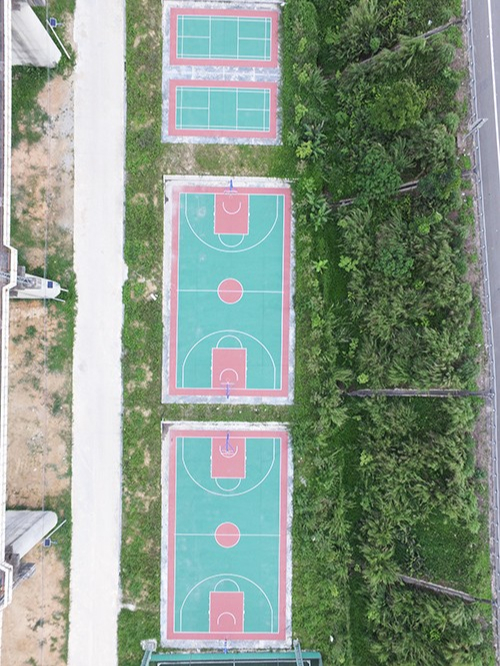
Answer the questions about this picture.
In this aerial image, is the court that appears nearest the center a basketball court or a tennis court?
basketball court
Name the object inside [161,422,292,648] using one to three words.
basketball court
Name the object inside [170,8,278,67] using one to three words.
sports court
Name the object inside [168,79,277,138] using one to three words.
sports court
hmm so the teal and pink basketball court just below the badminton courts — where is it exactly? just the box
[162,178,294,403]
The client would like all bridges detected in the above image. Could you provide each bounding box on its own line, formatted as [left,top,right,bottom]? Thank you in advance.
[0,0,62,666]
